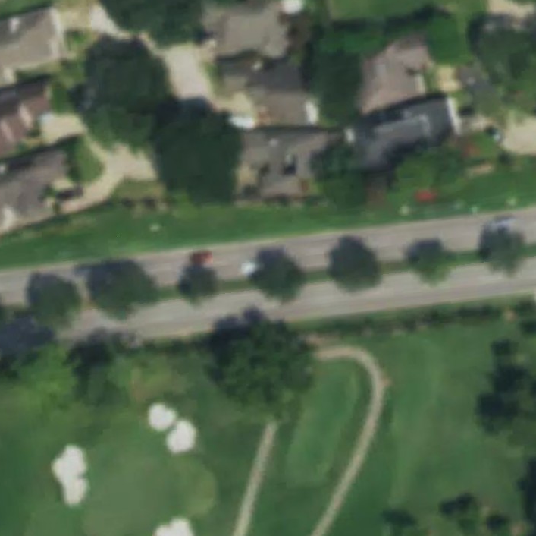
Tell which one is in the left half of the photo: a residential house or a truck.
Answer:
residential house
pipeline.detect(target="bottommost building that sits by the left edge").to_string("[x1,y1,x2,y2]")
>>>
[0,148,89,231]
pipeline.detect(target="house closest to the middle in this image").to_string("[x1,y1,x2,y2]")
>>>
[240,127,327,206]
